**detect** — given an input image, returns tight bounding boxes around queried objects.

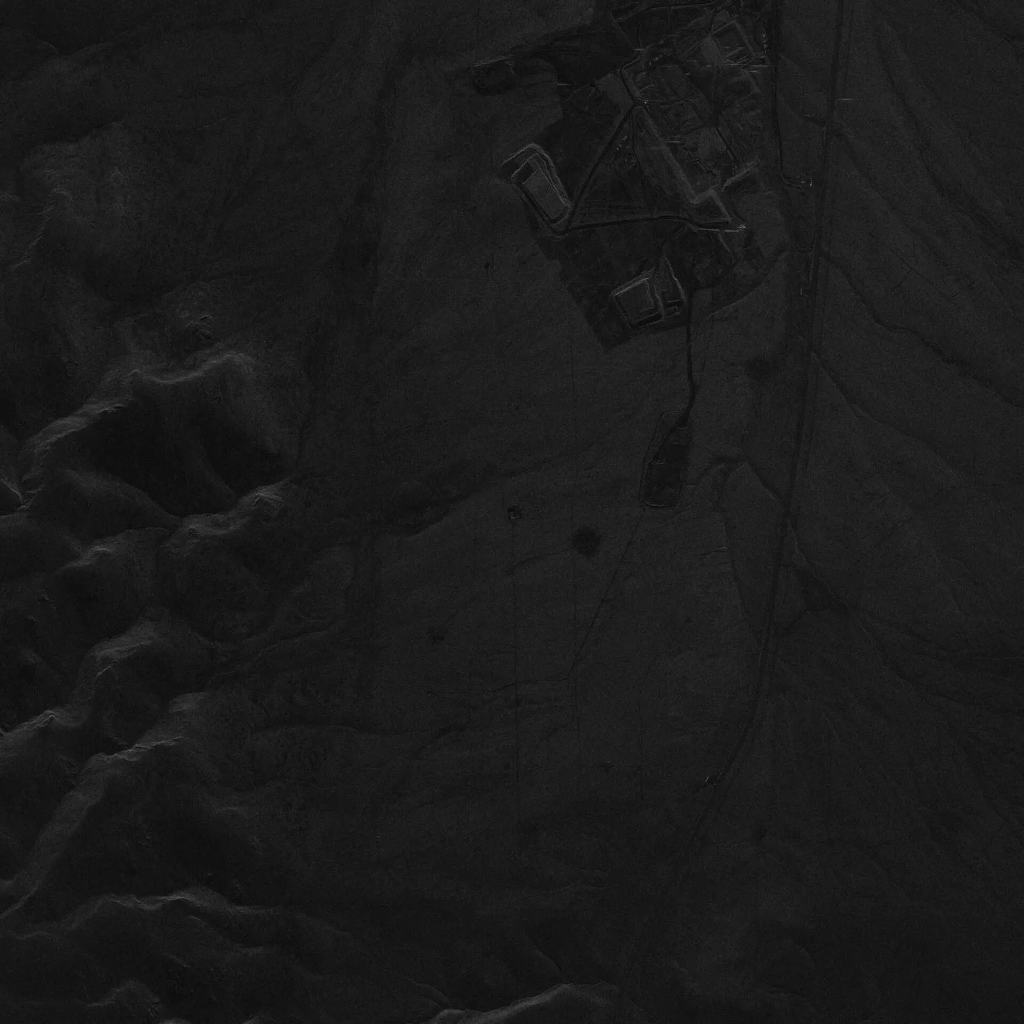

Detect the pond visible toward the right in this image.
[647,429,690,504]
